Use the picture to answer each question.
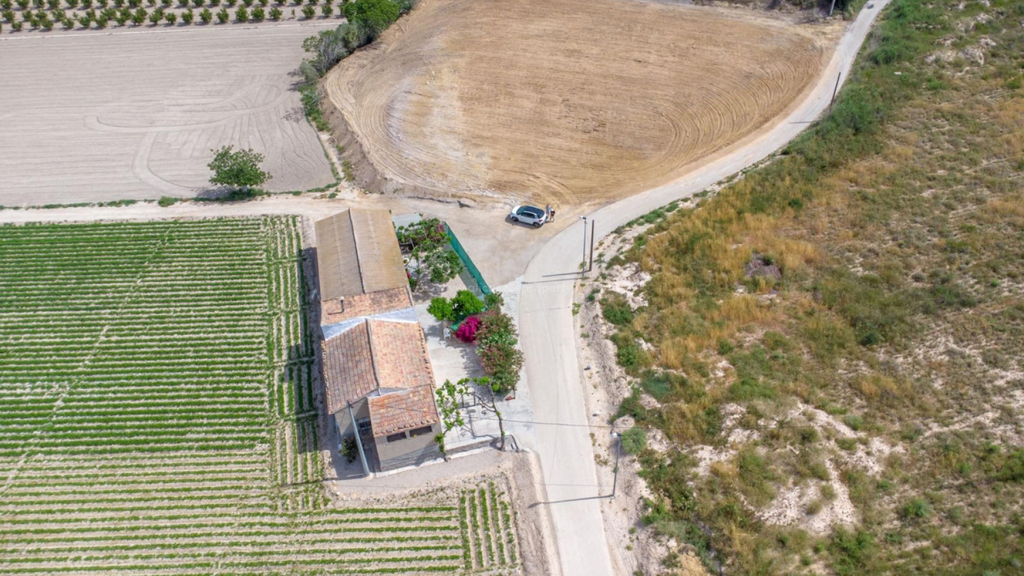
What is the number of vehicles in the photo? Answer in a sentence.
Only 1 vehicle is visible.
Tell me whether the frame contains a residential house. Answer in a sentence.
Yes, looking at the shot, I can spot a residential house.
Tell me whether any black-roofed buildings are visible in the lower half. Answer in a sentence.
No, in the lower half there is no black-roofed building.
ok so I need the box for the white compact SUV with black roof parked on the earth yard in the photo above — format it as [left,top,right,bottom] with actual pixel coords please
[508,210,545,231]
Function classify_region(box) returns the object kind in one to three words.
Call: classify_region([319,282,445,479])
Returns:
house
